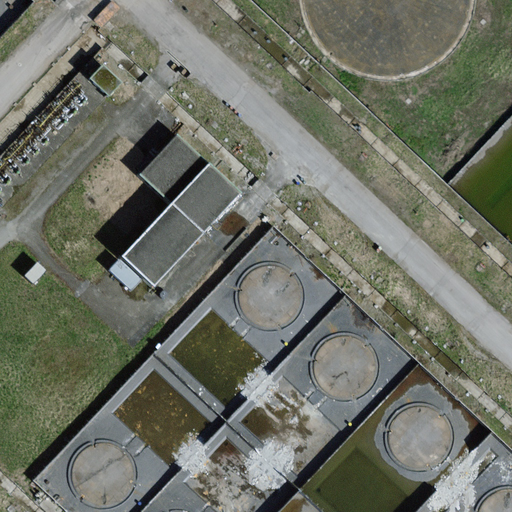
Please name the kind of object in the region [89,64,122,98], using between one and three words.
shed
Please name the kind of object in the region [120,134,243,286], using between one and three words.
building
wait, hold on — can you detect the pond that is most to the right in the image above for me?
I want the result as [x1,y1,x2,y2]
[446,112,512,242]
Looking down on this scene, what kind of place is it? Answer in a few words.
industrial area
